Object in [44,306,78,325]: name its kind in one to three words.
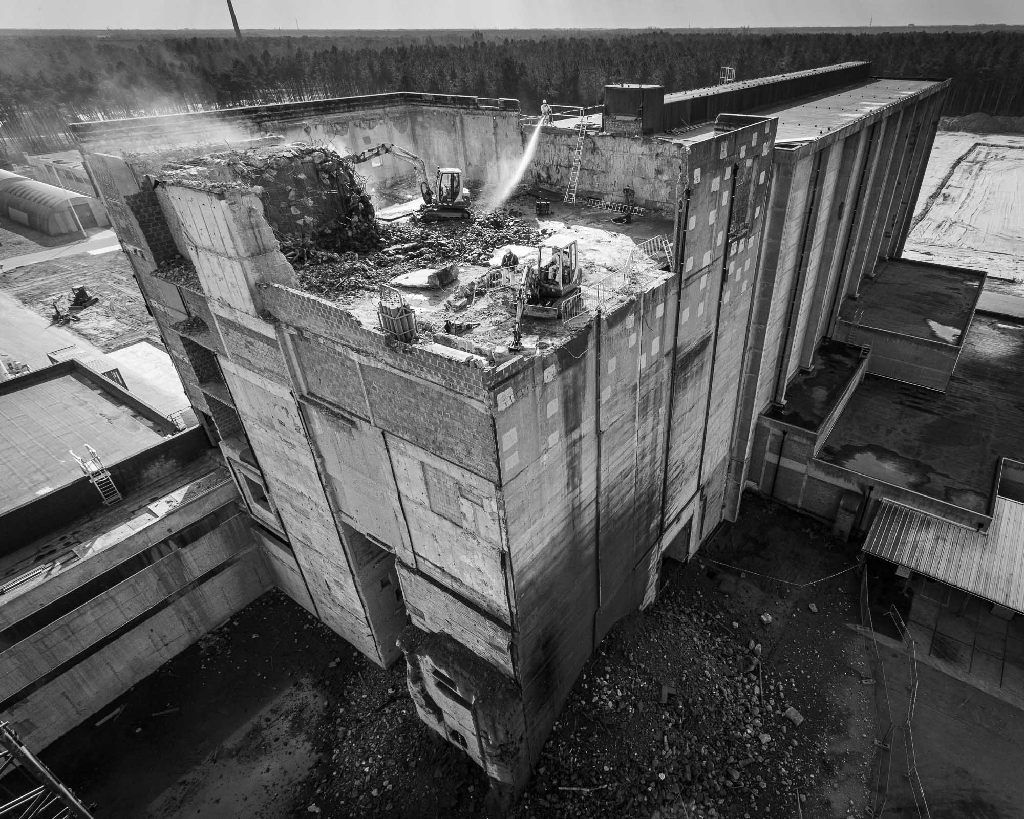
work vehicle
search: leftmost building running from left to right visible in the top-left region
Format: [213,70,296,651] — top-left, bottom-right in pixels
[0,179,110,235]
